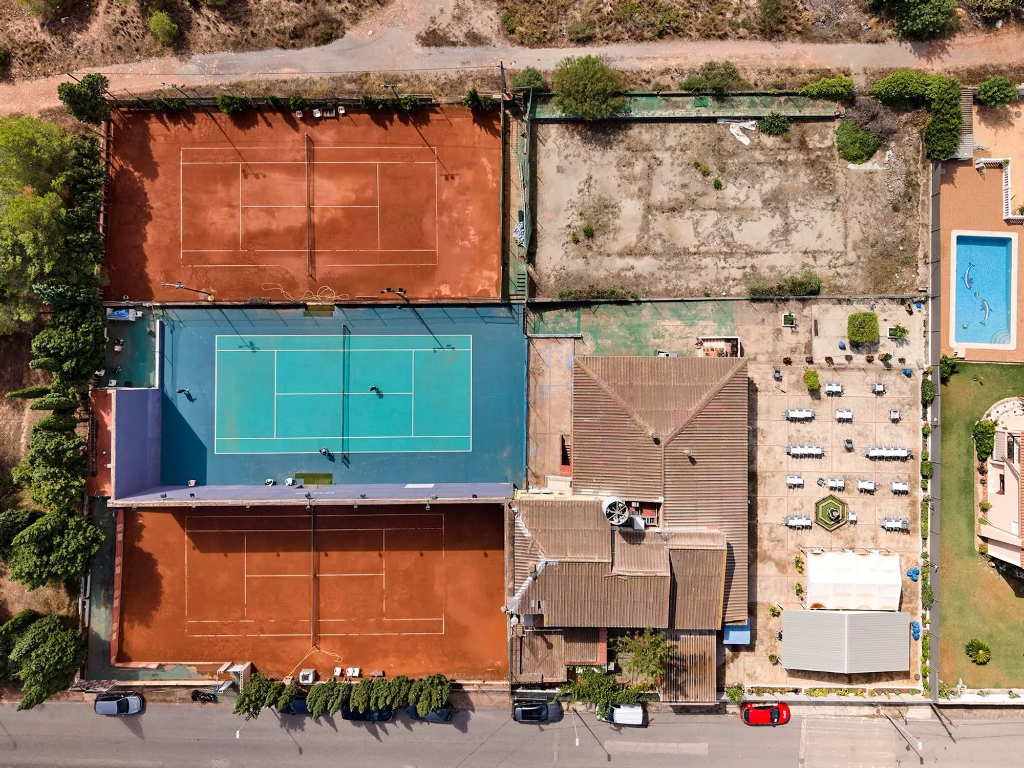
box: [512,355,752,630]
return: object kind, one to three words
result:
building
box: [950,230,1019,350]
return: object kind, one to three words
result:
swimming pool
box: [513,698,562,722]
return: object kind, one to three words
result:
car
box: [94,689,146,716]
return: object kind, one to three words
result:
car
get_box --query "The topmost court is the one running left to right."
[105,105,502,301]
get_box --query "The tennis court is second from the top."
[159,304,527,487]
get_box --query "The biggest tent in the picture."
[799,547,900,610]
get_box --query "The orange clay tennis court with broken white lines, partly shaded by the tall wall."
[117,504,508,684]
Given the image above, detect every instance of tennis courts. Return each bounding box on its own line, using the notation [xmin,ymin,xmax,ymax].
[105,105,502,301]
[159,304,527,487]
[117,504,508,684]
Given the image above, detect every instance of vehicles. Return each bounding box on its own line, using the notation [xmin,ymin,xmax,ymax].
[344,696,393,722]
[596,699,645,721]
[405,698,455,723]
[275,691,319,715]
[94,689,146,716]
[740,697,788,722]
[513,698,562,722]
